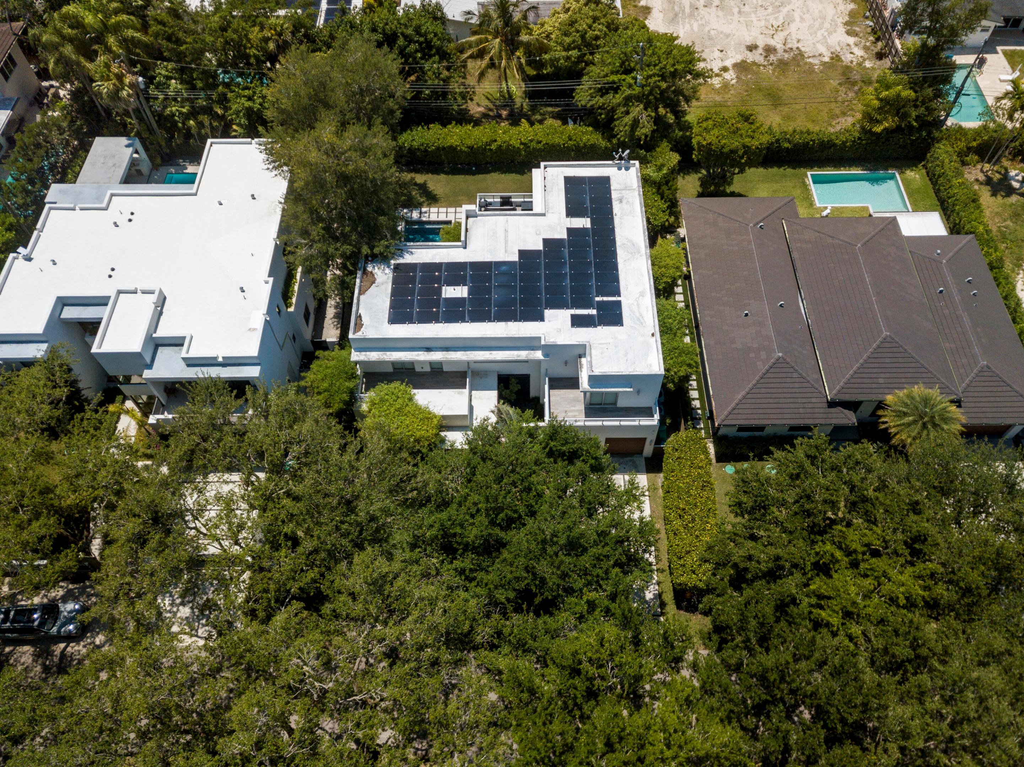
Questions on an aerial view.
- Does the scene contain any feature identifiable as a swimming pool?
Yes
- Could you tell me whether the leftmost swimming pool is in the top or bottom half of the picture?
top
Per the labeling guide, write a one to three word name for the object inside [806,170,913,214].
swimming pool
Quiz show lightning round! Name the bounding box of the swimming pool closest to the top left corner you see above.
[0,151,70,210]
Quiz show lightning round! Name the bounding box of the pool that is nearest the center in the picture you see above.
[398,218,451,243]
